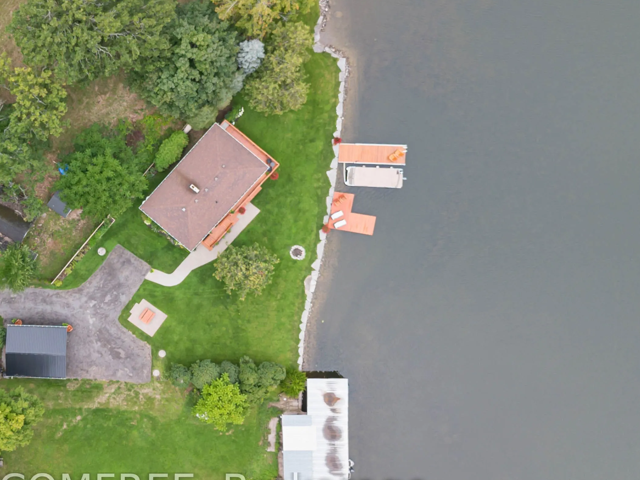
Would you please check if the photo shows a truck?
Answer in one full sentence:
No, the frame has no truck in it.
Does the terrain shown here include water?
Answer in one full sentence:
Yes, water shows up in the scene.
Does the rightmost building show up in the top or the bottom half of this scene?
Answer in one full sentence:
You can find the rightmost building in the bottom half.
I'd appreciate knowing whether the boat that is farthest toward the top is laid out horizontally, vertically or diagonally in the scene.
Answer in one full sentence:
In this picture, the boat that is farthest toward the top is oriented horizontally.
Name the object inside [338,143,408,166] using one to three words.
pier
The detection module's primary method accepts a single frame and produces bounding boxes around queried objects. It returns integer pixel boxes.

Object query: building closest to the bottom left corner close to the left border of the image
[5,324,70,380]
